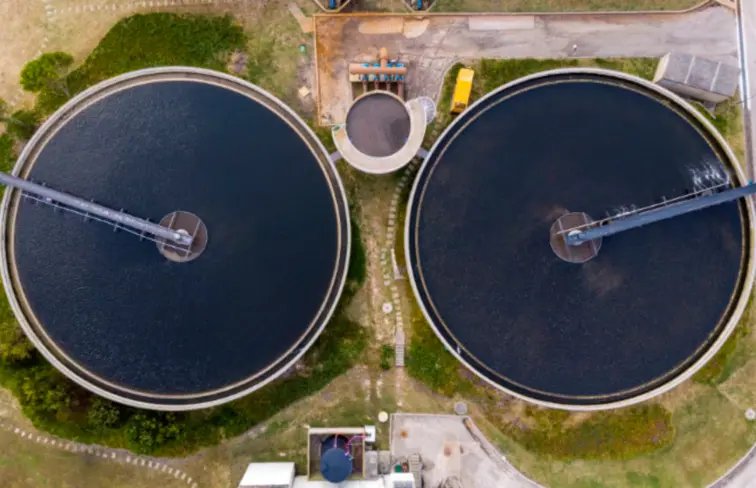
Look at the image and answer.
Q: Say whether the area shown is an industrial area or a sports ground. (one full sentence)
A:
The picture captures an industrial area.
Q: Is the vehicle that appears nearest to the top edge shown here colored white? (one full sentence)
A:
No, the vehicle that appears nearest to the top edge is yellow.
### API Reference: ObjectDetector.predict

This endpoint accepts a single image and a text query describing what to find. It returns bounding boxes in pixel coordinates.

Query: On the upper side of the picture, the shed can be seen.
[655,49,738,102]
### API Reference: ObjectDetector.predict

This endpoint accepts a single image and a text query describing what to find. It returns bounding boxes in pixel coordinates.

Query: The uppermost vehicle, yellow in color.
[450,69,475,112]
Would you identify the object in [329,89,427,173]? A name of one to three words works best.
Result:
water tank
